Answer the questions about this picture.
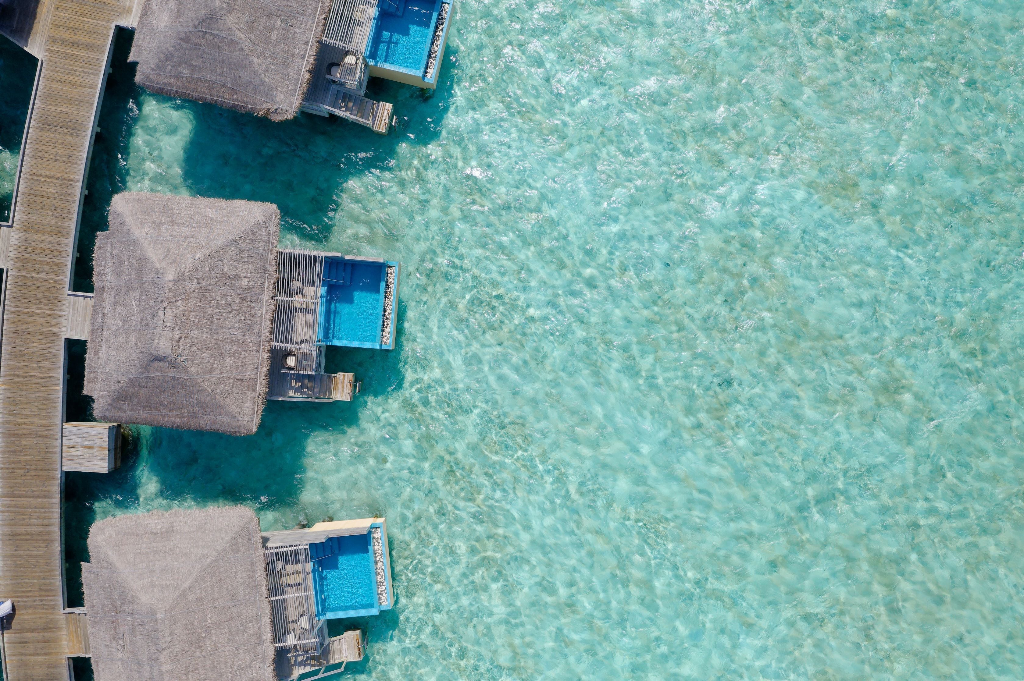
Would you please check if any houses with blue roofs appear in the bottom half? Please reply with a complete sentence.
No, there's no house with a blue roof to be seen in the bottom half.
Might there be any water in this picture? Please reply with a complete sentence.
Yes, there is water in the image.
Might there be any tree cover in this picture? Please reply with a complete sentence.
No, there's no tree cover in this view.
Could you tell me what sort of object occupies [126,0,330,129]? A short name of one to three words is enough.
house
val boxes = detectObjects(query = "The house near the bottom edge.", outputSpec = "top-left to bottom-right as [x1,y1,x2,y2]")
[80,502,281,681]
